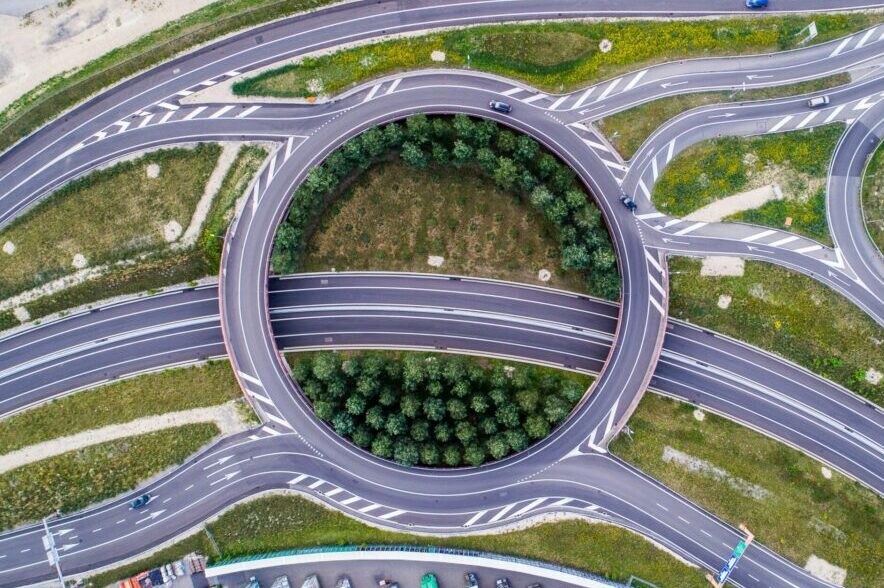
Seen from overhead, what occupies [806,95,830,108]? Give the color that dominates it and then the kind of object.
white vehicle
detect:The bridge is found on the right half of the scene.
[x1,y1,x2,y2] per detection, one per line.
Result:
[586,253,672,444]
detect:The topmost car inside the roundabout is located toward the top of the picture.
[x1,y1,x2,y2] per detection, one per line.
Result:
[489,99,512,113]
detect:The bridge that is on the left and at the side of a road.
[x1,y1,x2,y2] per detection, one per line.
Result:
[218,218,287,415]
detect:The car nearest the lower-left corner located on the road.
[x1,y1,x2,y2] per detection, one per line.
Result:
[128,493,152,511]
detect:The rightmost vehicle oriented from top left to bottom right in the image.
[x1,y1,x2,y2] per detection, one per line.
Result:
[617,193,639,212]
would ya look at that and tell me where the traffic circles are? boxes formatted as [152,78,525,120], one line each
[224,68,666,495]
